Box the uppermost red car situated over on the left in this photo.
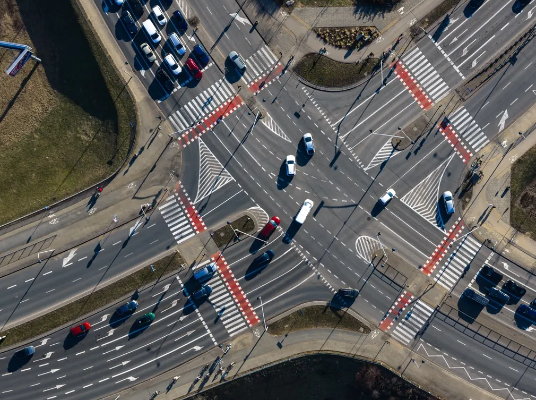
[186,57,203,81]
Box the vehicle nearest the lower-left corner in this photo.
[12,345,35,360]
